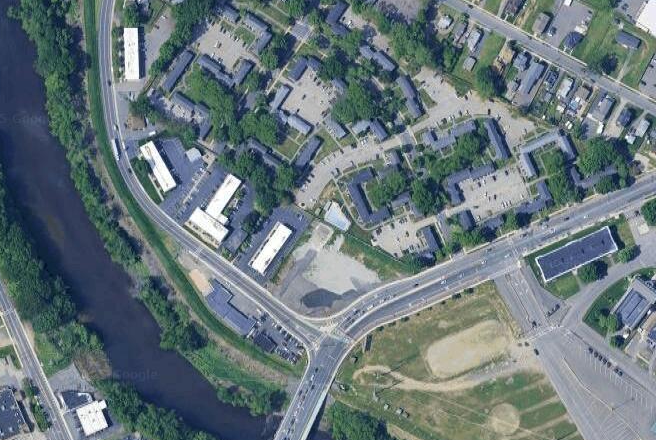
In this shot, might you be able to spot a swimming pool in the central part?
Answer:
Yes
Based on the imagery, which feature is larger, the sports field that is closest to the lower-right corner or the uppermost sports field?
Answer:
the uppermost sports field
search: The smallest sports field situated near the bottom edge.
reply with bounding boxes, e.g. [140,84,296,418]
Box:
[489,404,519,435]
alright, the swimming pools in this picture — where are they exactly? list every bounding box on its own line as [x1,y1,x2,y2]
[323,200,350,231]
